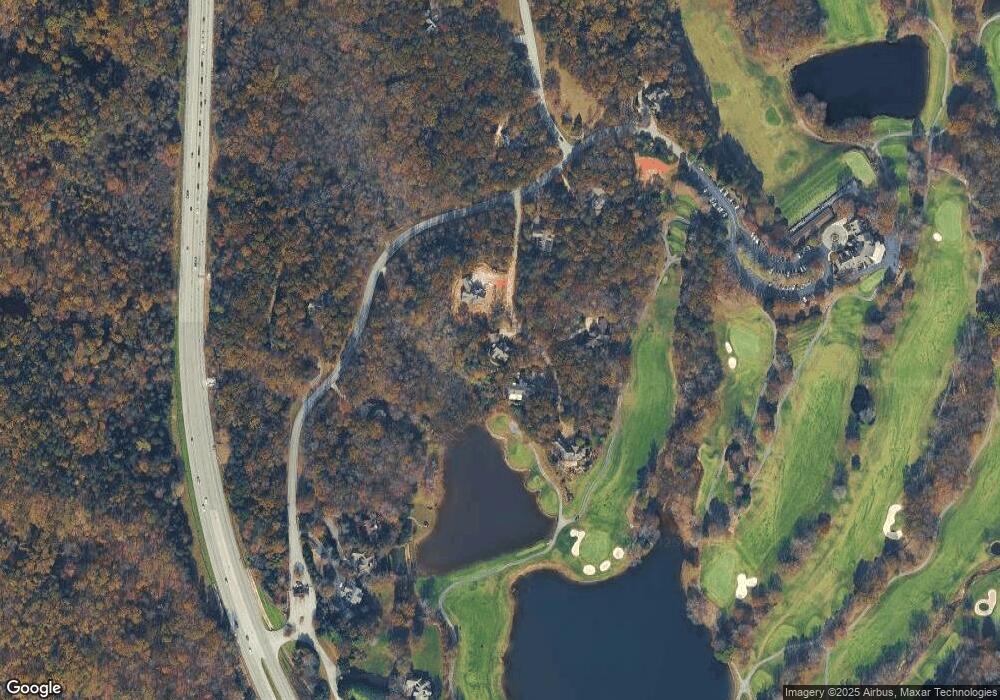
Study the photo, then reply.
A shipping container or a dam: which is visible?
dam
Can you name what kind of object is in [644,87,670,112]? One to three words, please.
house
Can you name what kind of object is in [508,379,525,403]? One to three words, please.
house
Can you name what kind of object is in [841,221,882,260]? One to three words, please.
building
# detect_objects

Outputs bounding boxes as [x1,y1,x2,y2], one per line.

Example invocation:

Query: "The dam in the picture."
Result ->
[432,538,551,591]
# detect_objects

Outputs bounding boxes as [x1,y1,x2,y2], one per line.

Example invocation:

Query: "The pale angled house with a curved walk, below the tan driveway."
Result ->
[489,340,514,366]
